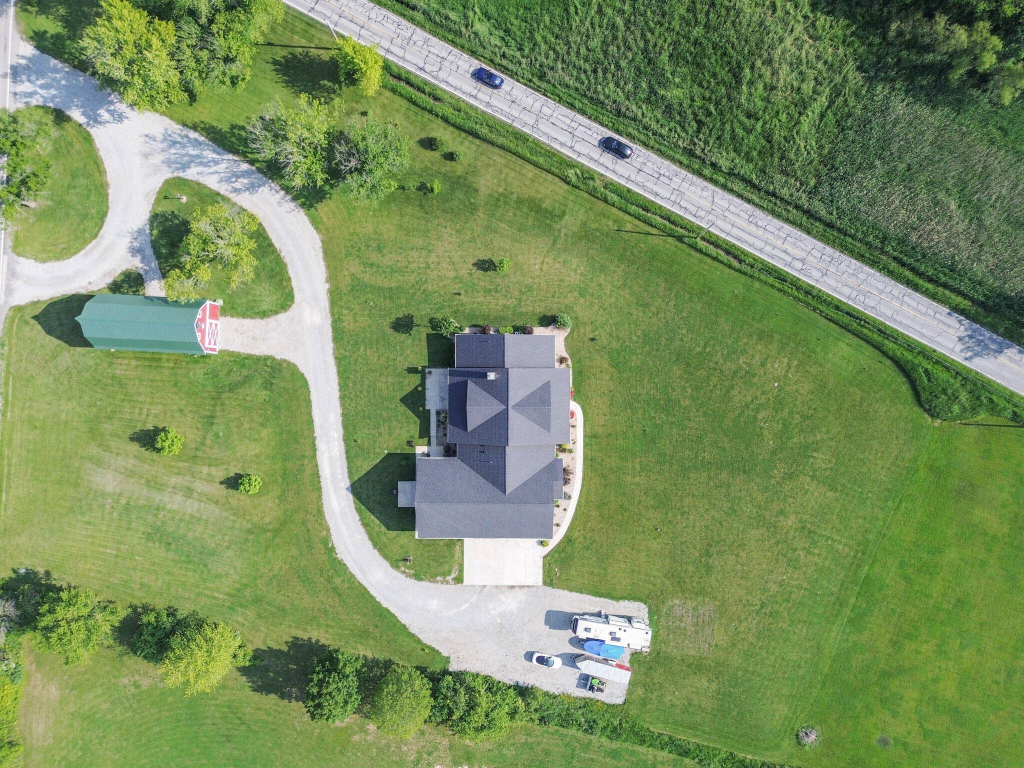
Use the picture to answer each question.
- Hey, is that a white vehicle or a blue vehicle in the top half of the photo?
blue vehicle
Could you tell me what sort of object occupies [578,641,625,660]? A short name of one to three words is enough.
boat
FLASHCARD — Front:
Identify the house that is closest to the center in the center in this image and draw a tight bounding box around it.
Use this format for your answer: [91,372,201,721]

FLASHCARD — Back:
[414,332,571,540]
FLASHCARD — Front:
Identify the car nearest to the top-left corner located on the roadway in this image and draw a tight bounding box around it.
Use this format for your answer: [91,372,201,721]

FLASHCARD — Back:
[476,68,506,91]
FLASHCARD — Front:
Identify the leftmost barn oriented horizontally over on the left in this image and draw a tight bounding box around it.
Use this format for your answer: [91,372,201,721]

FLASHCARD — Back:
[74,292,220,356]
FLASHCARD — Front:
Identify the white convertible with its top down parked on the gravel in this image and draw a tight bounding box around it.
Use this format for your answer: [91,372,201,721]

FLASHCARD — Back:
[532,650,562,669]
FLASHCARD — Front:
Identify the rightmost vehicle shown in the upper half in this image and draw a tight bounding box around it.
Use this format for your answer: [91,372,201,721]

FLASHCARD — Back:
[602,137,633,160]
